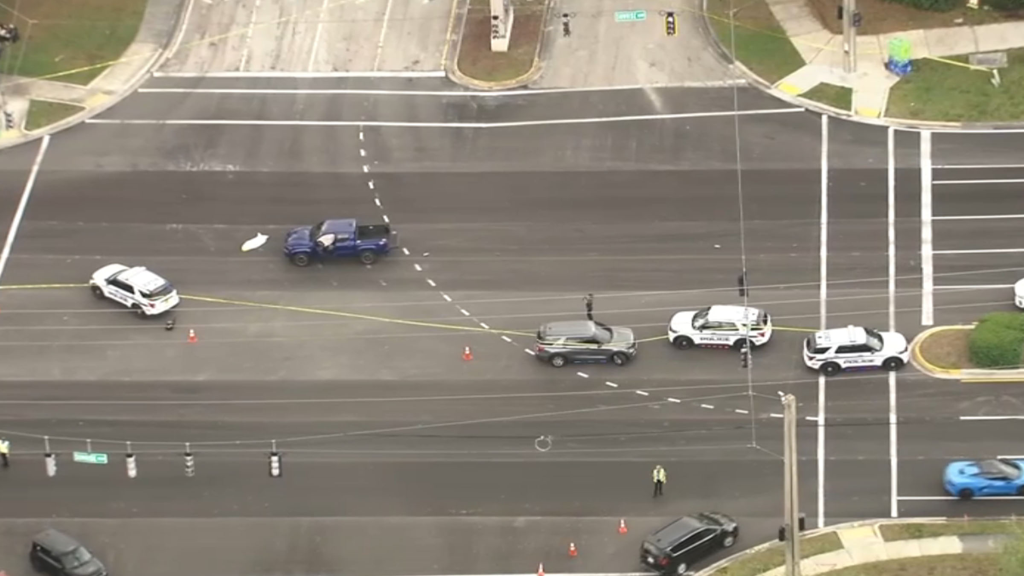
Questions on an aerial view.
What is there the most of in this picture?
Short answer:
paved ground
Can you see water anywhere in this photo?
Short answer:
No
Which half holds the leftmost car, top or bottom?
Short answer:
bottom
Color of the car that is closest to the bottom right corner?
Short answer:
blue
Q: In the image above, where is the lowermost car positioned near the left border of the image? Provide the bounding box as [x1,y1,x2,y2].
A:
[31,527,115,576]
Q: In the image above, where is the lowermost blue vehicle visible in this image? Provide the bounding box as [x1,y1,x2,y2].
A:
[940,458,1024,499]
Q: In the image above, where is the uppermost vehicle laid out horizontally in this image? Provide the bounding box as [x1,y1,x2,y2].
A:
[279,219,400,267]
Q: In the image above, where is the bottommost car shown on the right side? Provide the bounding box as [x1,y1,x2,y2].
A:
[640,511,739,575]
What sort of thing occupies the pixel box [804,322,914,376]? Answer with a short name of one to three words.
car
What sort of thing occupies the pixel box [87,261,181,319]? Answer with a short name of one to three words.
car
